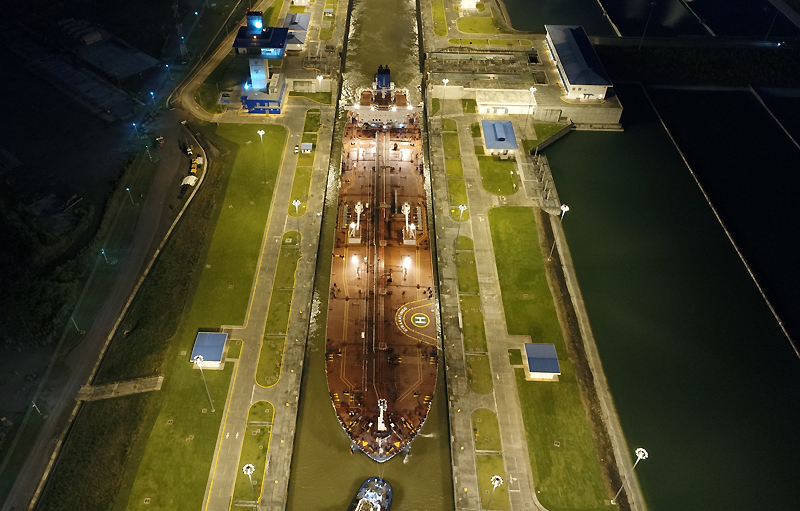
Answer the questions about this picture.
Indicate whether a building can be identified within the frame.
Yes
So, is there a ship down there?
Yes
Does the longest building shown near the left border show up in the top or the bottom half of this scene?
top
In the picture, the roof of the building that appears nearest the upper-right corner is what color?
black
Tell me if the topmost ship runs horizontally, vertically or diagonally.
vertically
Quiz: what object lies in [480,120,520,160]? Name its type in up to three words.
building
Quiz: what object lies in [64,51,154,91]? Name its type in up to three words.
building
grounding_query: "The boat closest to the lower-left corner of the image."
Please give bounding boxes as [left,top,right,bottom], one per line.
[348,477,390,511]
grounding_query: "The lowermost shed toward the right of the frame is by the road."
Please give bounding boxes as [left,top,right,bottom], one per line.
[521,344,562,383]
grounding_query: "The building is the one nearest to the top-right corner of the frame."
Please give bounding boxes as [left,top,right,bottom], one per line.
[544,24,612,102]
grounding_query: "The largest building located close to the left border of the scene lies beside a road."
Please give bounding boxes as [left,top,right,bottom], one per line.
[9,63,145,134]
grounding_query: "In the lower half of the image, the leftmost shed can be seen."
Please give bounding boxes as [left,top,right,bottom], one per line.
[191,332,232,372]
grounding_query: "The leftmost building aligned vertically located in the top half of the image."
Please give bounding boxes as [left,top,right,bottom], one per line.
[233,3,290,116]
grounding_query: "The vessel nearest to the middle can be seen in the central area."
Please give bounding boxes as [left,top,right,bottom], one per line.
[324,60,447,467]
